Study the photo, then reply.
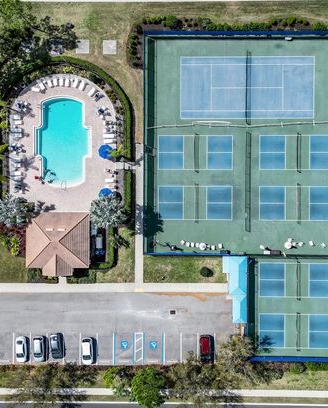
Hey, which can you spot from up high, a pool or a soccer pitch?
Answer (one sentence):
This aerial view contains a pool.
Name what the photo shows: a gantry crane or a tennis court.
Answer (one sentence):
This aerial view contains a tennis court.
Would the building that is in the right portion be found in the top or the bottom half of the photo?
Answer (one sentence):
It is in the bottom half that the building that is in the right portion appears.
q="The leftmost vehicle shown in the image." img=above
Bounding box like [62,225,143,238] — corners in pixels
[12,337,26,364]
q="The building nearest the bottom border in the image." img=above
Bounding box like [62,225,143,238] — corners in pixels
[222,256,247,326]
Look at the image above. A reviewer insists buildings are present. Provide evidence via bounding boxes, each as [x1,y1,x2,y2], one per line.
[25,212,90,277]
[222,256,247,326]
